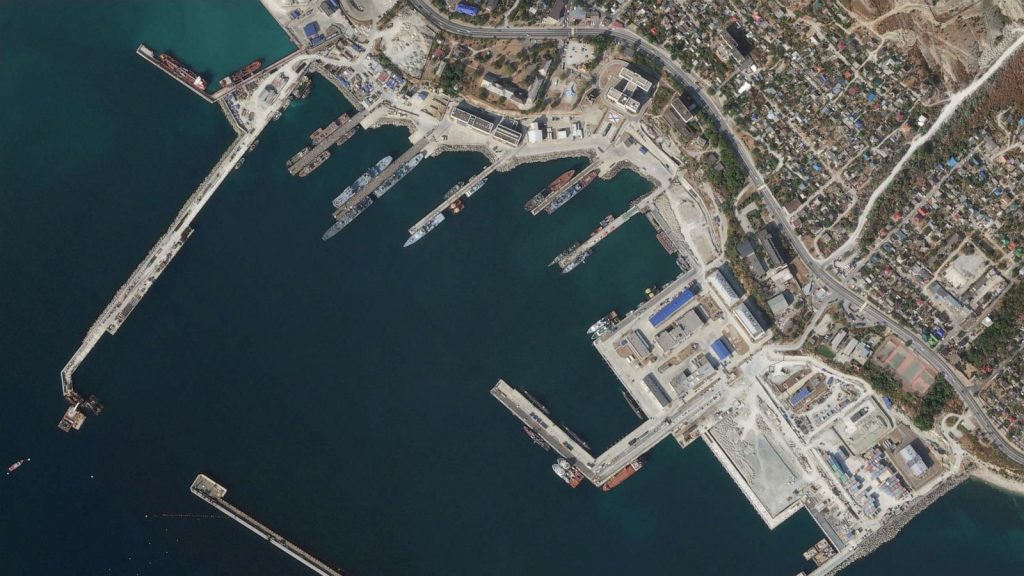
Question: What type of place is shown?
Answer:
port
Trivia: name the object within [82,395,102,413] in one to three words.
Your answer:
boat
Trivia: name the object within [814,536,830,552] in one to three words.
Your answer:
ship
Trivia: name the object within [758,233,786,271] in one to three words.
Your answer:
building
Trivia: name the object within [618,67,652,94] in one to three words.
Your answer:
building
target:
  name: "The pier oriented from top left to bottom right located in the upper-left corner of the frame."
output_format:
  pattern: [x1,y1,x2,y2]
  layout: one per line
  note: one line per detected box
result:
[136,44,213,104]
